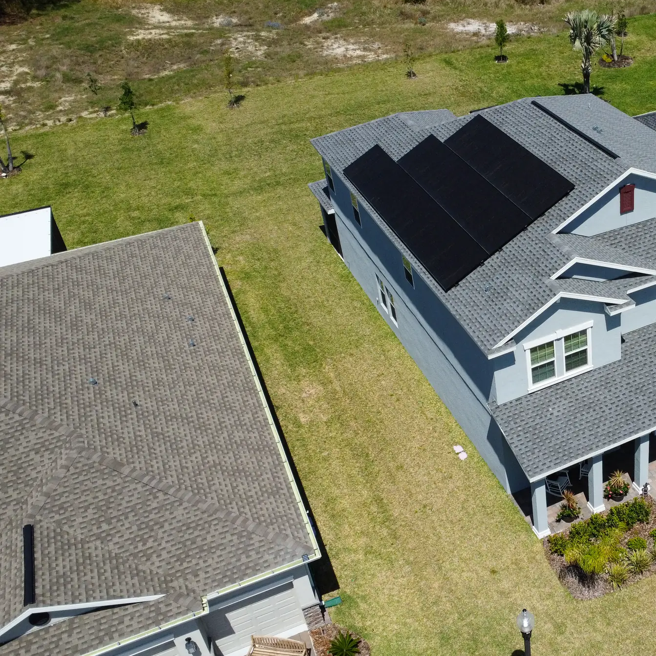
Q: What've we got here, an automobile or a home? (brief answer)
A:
home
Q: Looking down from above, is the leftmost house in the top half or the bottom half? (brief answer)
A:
bottom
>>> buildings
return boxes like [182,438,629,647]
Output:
[0,208,324,656]
[308,93,656,538]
